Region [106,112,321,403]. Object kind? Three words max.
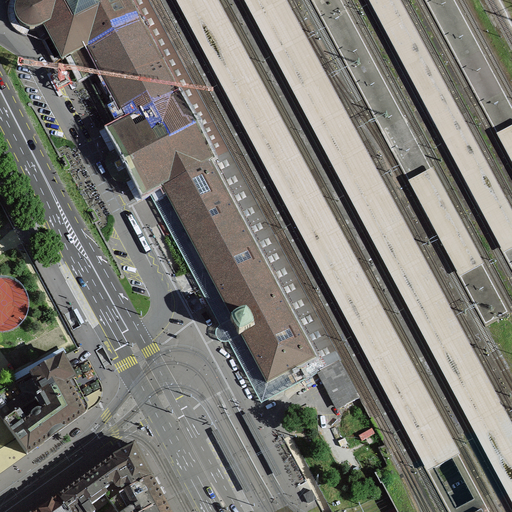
building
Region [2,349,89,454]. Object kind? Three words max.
building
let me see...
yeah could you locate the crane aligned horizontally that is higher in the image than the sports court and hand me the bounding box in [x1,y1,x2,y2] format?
[16,61,215,96]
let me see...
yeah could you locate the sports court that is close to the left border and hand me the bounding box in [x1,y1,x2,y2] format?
[0,274,31,334]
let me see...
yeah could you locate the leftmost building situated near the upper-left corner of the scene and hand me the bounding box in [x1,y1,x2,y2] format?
[5,0,50,35]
